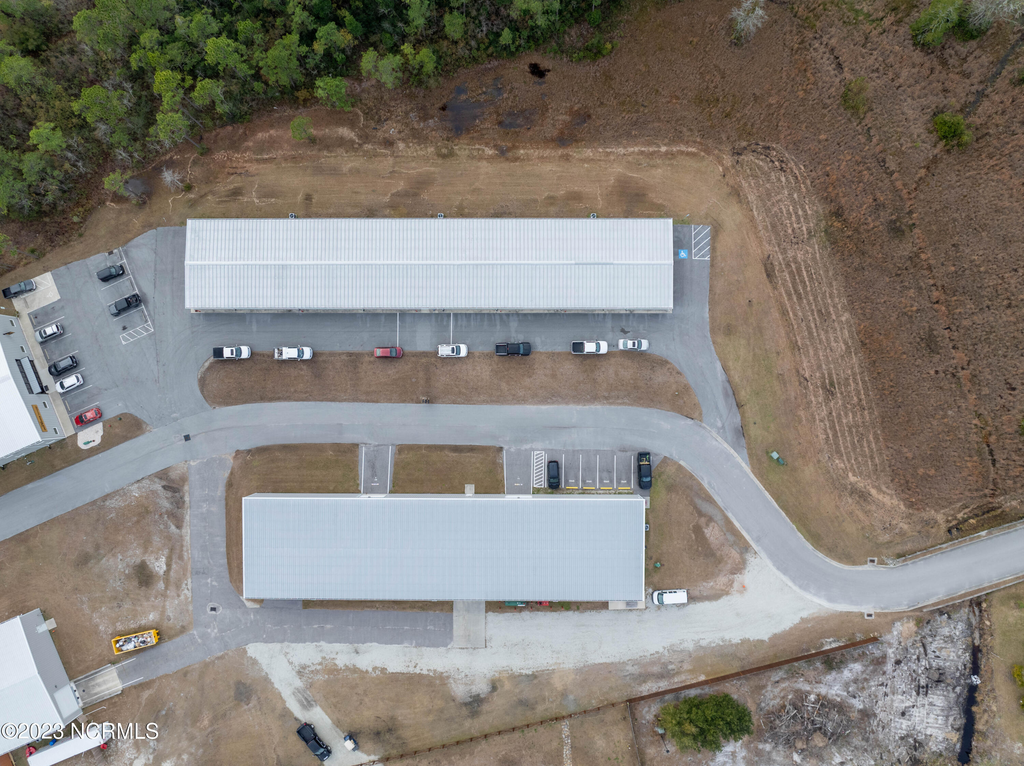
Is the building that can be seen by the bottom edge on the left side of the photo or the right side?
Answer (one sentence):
The building that can be seen by the bottom edge is on the left side of the image.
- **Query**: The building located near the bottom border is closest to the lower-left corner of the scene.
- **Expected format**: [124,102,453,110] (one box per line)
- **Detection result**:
[0,608,82,755]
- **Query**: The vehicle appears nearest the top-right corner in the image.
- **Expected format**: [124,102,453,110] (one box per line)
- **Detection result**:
[618,337,649,352]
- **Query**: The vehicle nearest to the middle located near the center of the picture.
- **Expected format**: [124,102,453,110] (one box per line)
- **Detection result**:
[495,343,532,357]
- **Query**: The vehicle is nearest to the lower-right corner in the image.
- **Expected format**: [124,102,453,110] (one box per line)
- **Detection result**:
[651,588,689,605]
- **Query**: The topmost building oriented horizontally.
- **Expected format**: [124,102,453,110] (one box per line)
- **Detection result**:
[183,219,674,309]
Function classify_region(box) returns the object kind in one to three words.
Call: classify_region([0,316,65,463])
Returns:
building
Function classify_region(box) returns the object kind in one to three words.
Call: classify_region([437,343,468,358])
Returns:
car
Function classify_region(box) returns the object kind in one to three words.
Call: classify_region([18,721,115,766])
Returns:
trailer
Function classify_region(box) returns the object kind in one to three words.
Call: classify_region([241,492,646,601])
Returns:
building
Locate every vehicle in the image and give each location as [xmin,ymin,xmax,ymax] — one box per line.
[0,277,38,302]
[108,293,145,317]
[296,722,330,759]
[547,460,561,490]
[637,452,653,489]
[93,263,128,285]
[274,345,313,361]
[344,734,359,752]
[618,337,649,352]
[437,343,468,358]
[35,322,66,343]
[374,347,404,360]
[651,588,689,605]
[56,373,87,394]
[495,343,532,357]
[571,339,607,355]
[75,407,105,427]
[213,345,252,360]
[48,354,82,377]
